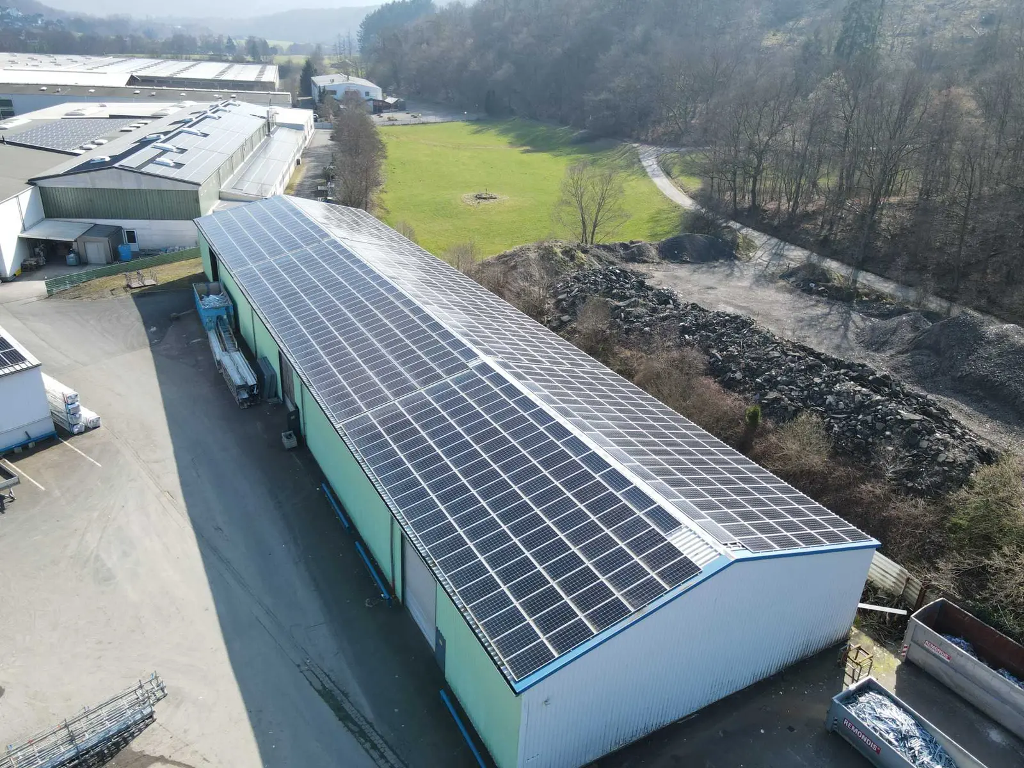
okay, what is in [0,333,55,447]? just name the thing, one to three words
shed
